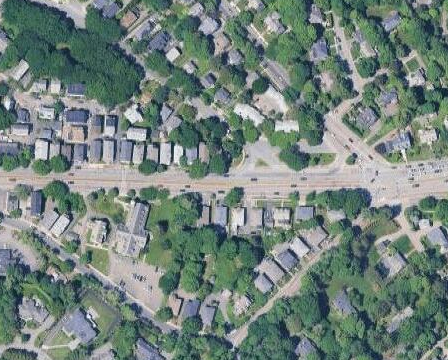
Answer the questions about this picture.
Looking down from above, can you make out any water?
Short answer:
No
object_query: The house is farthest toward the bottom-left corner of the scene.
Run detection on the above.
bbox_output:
[18,293,52,326]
